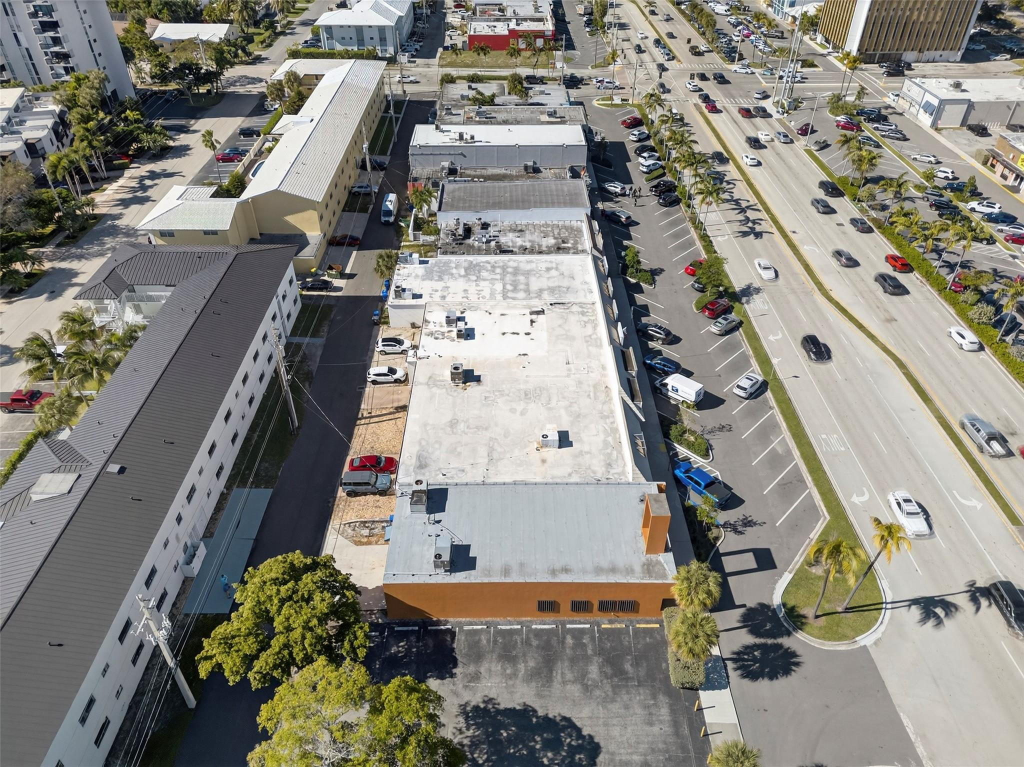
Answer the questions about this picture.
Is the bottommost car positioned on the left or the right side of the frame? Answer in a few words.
right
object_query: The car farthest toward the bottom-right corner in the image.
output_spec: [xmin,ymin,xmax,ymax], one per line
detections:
[985,573,1024,641]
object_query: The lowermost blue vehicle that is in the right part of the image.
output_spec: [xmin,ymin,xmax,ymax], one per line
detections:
[669,459,739,507]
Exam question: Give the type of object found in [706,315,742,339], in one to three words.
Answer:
car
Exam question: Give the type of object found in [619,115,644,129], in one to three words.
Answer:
vehicle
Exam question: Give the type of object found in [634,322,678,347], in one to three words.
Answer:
car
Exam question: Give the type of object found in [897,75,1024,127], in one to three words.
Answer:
building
